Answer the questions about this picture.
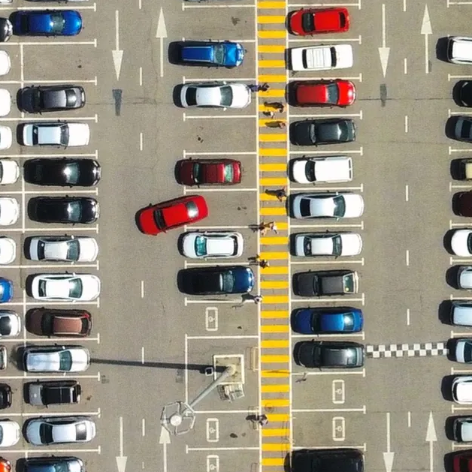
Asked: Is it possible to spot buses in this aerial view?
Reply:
No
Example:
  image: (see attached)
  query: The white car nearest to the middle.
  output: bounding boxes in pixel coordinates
[183,229,245,262]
